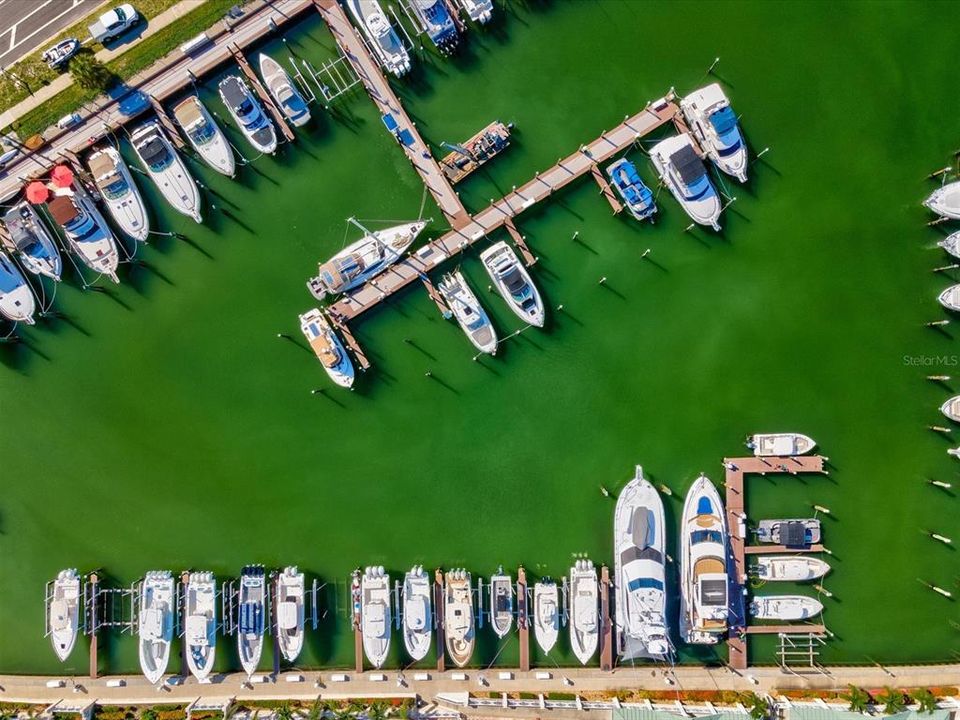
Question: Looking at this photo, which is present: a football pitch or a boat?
boat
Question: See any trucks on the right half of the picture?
No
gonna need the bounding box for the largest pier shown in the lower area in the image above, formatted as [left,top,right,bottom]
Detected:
[715,454,833,669]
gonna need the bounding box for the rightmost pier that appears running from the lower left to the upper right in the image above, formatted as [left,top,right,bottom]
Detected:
[331,95,707,368]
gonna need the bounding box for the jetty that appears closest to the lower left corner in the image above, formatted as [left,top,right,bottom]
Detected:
[82,572,106,674]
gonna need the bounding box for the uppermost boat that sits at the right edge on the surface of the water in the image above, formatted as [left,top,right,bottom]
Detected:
[920,172,960,224]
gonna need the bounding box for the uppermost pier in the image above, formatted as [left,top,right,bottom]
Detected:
[441,0,468,36]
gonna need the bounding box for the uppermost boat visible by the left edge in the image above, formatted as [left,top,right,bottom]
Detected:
[39,38,84,69]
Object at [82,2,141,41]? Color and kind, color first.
white truck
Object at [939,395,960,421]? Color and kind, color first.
white boat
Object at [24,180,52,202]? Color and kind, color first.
red umbrella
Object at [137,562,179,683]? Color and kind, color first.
white boat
